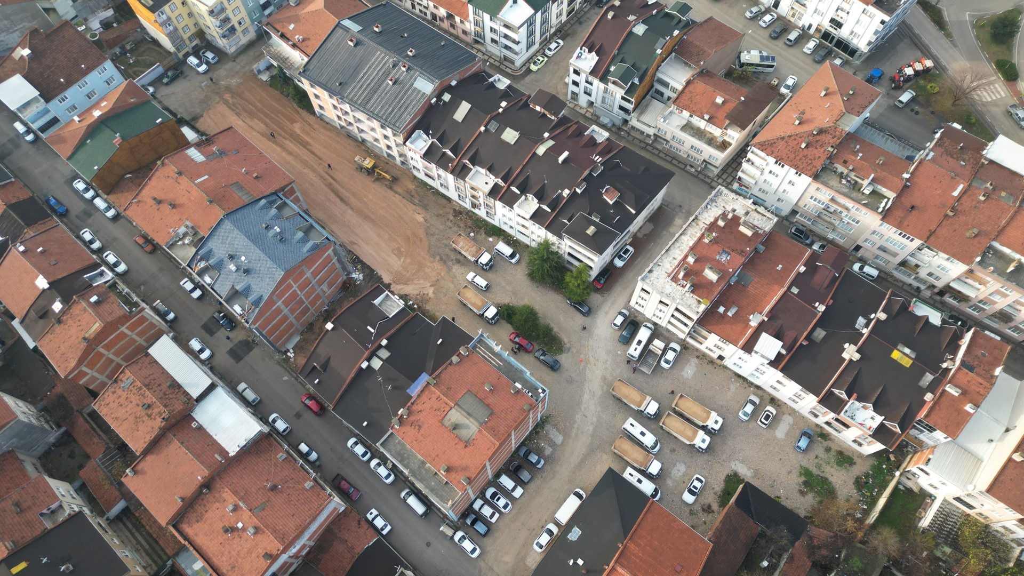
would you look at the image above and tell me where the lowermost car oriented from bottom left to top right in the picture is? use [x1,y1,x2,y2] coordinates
[530,524,558,555]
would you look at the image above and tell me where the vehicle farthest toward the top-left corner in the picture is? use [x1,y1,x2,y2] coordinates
[9,118,38,142]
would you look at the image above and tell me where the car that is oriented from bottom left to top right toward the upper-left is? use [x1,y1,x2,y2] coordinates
[160,67,184,86]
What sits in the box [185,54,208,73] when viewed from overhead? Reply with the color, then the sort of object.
white car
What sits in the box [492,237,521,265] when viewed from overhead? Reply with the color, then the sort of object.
white van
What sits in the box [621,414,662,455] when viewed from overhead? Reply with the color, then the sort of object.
white vehicle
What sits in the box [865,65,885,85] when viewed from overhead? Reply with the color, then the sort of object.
blue work vehicle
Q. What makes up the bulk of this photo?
buildings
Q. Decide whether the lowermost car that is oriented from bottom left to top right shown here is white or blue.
white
